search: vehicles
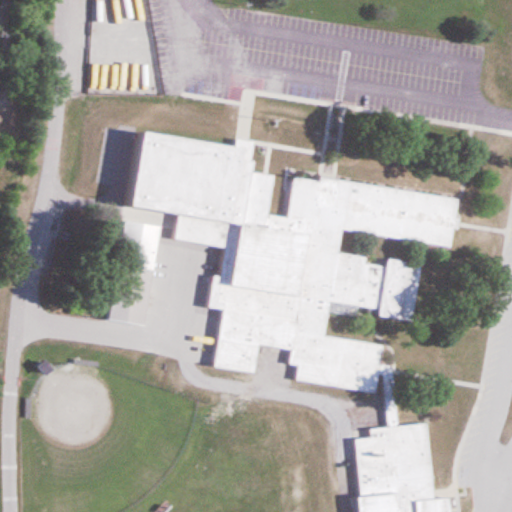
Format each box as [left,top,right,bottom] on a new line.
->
[98,64,109,89]
[130,64,139,90]
[96,0,104,22]
[192,336,215,344]
[134,0,144,20]
[118,64,128,89]
[141,64,150,89]
[110,64,119,90]
[123,0,134,20]
[112,0,122,23]
[90,64,100,89]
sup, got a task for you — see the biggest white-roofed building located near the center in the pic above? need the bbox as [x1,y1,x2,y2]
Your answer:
[126,132,460,394]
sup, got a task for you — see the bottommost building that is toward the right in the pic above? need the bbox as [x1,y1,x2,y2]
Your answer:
[352,422,452,512]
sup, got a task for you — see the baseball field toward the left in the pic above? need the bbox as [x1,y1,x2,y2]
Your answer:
[22,356,196,512]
